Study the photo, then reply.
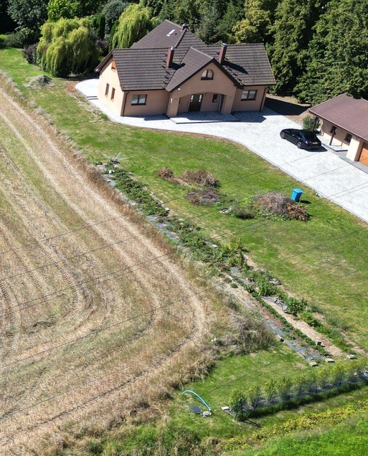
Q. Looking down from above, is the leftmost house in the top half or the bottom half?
top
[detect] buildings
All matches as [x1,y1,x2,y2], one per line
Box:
[309,92,368,166]
[85,16,275,120]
